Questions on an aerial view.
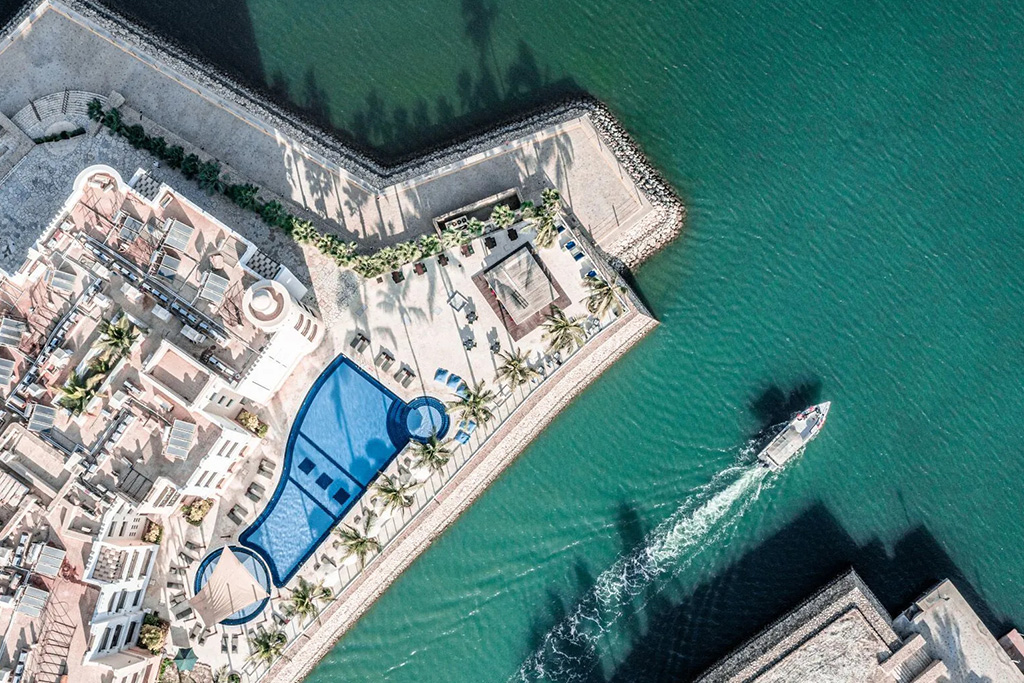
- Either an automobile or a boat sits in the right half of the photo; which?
boat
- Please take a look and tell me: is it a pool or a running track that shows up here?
pool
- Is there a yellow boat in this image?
No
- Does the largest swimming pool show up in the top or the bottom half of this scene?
bottom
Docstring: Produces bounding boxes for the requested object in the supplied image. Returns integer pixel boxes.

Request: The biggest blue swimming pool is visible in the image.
[238,350,453,592]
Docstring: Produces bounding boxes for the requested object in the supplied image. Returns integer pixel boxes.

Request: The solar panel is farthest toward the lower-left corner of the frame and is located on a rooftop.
[12,585,54,617]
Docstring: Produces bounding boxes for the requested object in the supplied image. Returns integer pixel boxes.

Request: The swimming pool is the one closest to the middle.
[403,397,451,444]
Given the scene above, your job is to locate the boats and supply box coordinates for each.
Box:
[758,401,831,472]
